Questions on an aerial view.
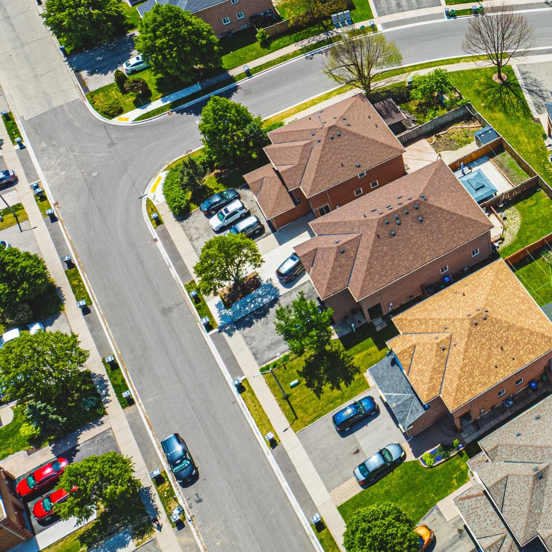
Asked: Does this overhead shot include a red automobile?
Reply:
Yes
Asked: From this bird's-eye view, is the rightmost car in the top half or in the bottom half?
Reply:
bottom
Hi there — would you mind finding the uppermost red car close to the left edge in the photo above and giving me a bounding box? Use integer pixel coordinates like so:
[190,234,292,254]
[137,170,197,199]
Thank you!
[16,458,63,497]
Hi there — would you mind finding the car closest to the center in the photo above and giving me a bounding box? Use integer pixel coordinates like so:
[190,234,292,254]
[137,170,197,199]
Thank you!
[271,258,303,285]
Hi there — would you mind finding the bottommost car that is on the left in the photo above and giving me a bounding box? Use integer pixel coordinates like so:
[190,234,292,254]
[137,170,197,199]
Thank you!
[31,489,69,522]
